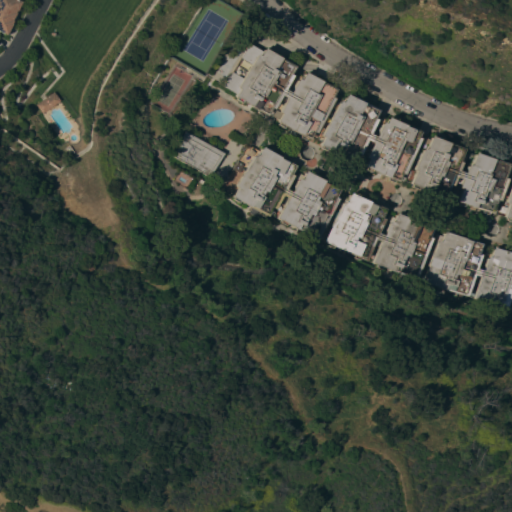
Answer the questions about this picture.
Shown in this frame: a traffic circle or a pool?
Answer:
pool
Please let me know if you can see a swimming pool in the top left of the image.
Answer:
Yes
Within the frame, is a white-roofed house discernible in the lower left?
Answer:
No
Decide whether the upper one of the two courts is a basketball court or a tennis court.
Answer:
tennis court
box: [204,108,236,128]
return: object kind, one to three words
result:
swimming pool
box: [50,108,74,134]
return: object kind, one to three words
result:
swimming pool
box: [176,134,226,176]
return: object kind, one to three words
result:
building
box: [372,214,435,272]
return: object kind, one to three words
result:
house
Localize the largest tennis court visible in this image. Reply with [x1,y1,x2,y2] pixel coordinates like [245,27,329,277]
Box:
[174,0,242,75]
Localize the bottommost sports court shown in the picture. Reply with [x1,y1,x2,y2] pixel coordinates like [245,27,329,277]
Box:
[156,67,192,112]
